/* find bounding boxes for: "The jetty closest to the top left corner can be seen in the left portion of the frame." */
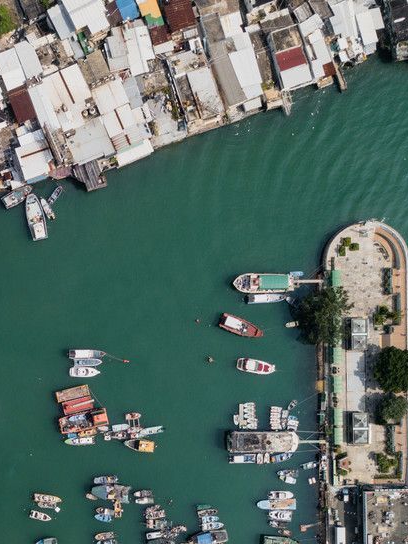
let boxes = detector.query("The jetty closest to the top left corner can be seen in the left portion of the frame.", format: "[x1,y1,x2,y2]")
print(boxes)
[73,160,106,193]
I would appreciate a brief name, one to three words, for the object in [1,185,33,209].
boat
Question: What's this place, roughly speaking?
residential area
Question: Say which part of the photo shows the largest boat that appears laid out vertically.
left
